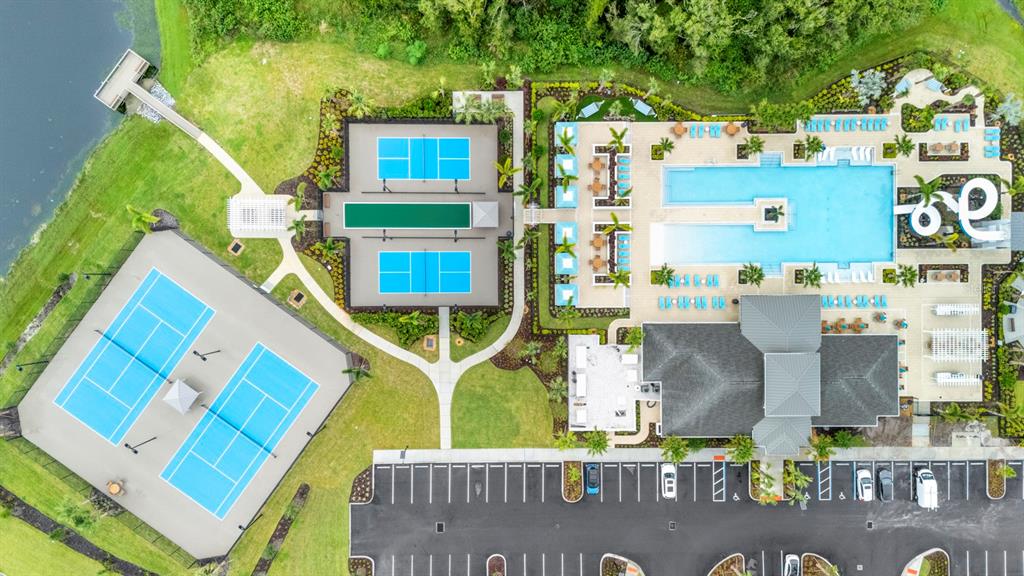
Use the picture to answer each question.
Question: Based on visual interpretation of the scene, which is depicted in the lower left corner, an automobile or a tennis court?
tennis court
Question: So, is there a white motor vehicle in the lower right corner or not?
Yes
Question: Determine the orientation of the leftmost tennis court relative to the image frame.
diagonally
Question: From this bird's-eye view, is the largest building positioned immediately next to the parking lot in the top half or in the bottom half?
bottom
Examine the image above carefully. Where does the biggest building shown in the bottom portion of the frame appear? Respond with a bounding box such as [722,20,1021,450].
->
[641,294,899,456]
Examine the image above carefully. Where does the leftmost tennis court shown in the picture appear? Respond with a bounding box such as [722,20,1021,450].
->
[53,267,215,446]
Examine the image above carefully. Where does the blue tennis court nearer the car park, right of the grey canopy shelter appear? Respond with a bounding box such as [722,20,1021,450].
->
[160,343,320,520]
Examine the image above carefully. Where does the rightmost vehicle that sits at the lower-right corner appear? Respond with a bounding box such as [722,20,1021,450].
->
[914,468,939,513]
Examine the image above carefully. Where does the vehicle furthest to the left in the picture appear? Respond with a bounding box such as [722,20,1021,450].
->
[586,463,601,494]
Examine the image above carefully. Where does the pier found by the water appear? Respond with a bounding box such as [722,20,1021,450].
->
[94,49,204,142]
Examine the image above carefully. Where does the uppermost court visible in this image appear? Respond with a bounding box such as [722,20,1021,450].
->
[377,133,470,183]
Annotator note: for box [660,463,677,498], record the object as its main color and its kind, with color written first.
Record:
white car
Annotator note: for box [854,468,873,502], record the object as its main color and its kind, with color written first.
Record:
white car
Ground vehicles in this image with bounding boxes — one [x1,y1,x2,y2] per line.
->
[854,468,873,502]
[586,463,601,494]
[875,468,893,502]
[914,468,939,513]
[783,554,800,576]
[660,463,677,498]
